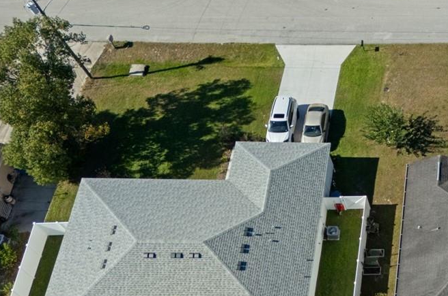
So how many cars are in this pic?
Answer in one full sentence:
In total, 2 cars can be seen.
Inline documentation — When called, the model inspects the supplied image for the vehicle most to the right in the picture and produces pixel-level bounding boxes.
[299,103,330,144]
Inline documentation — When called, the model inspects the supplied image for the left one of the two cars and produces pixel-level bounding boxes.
[268,96,301,144]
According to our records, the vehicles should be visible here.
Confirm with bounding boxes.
[299,103,330,144]
[268,96,301,144]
